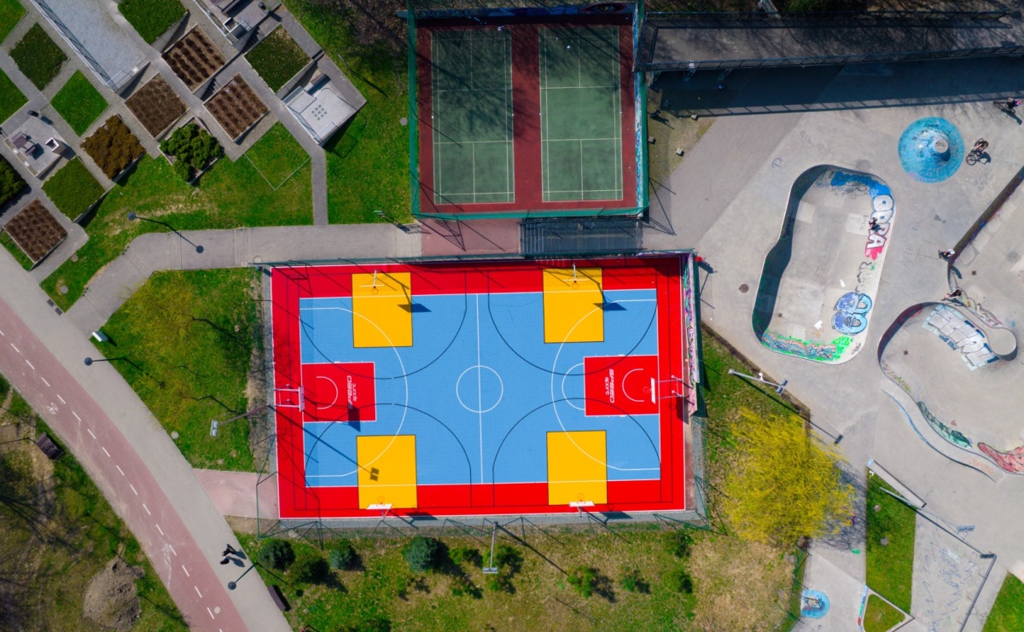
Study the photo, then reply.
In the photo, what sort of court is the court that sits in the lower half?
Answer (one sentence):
It looks like the court that sits in the lower half is a basketball court.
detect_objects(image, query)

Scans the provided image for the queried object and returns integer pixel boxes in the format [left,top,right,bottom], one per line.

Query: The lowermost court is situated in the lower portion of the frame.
[271,256,685,519]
